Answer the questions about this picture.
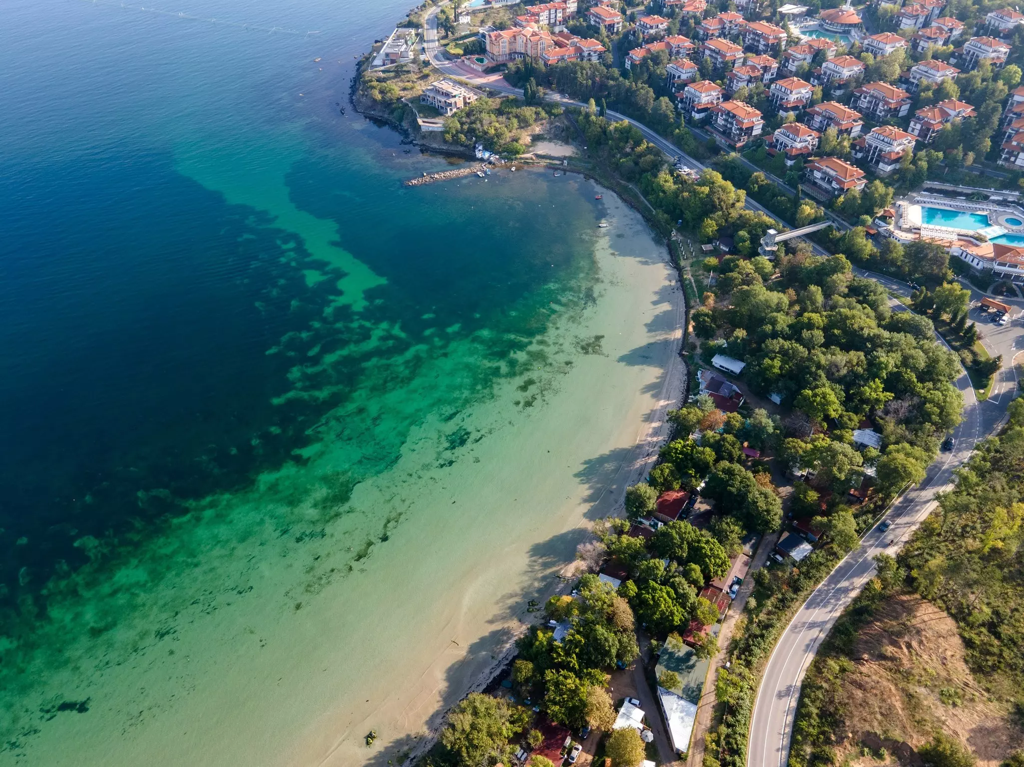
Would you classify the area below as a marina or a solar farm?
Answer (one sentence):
The area seen from above is a marina.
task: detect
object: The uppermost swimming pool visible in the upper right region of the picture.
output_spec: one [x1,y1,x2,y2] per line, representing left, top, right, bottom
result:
[784,20,862,53]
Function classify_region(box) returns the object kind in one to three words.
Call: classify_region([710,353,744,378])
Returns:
shed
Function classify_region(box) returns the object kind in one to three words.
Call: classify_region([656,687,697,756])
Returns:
building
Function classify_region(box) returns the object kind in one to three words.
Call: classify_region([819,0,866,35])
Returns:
building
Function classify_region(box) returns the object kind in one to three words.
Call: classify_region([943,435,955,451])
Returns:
vehicle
